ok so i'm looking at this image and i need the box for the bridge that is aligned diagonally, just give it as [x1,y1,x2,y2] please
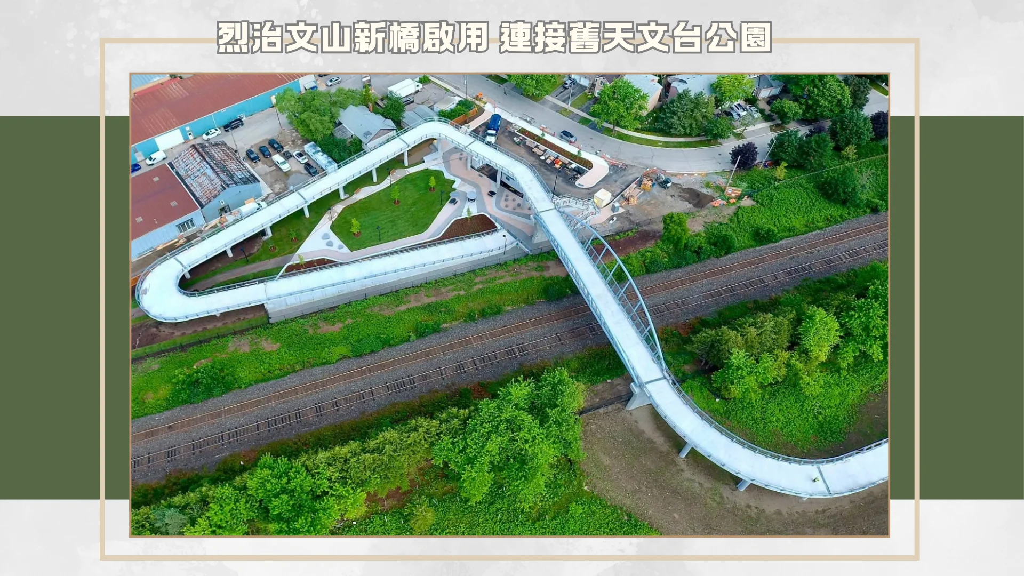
[533,199,673,411]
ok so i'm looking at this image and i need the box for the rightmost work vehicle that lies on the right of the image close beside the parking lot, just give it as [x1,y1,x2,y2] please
[653,164,673,186]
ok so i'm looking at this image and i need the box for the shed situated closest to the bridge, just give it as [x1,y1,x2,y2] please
[595,186,617,209]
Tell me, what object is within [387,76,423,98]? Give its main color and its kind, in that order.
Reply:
white truck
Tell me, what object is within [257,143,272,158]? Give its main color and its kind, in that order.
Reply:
blue car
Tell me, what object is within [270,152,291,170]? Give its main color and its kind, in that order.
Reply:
white vehicle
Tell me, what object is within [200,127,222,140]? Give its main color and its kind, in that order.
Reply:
white vehicle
